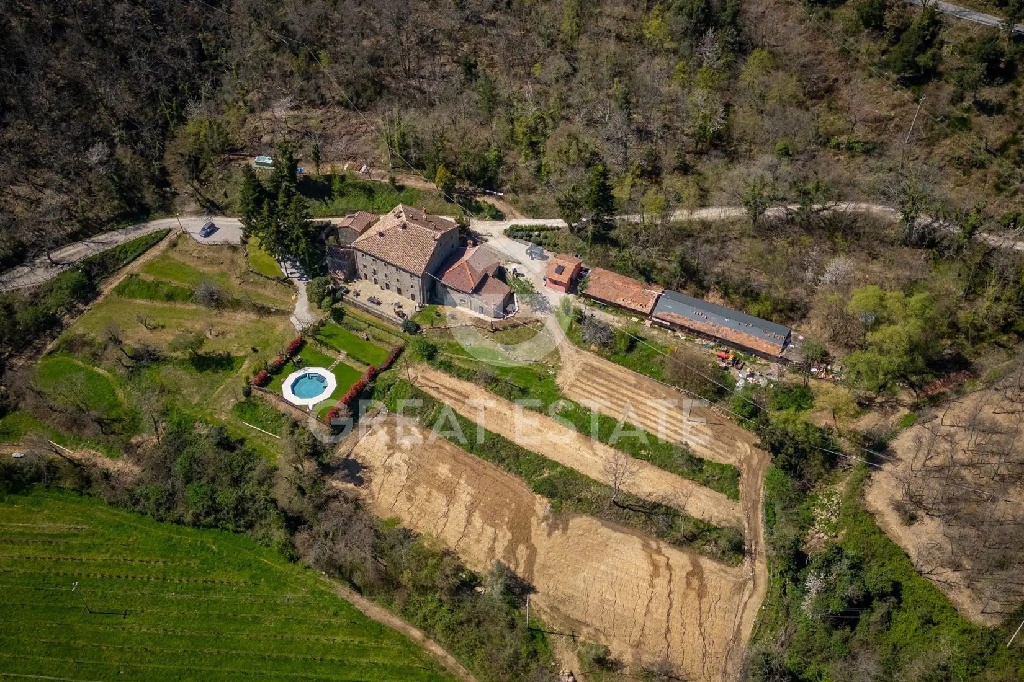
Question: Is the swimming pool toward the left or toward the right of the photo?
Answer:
left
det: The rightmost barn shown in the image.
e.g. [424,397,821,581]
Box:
[650,289,791,367]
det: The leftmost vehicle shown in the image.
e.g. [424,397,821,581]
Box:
[200,222,216,235]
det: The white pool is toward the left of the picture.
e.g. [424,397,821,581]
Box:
[281,367,337,405]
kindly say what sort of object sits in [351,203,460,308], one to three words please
house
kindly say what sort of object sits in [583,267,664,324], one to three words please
barn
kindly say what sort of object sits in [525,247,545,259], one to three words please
vehicle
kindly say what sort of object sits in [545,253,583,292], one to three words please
building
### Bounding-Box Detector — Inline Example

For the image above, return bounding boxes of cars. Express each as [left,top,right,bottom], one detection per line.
[525,247,545,259]
[200,222,216,235]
